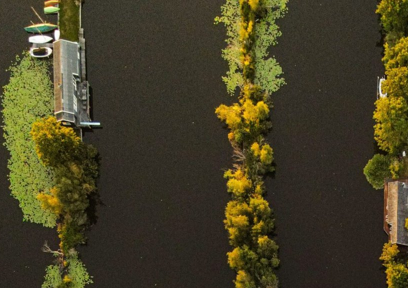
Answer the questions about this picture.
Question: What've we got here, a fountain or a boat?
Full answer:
There is a boat in the scene.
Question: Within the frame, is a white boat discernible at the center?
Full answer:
No, I can find no white boat at the center.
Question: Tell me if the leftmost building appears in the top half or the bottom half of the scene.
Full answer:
It is in the top half that the leftmost building appears.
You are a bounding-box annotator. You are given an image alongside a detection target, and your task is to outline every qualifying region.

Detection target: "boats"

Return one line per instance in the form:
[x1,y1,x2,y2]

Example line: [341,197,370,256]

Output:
[378,77,386,99]
[25,18,53,44]
[44,6,60,14]
[29,47,52,57]
[24,8,57,32]
[44,0,60,6]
